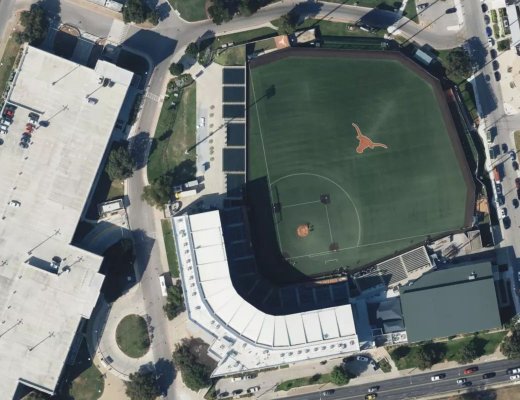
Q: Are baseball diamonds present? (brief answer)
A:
Yes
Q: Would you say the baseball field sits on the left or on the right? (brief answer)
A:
right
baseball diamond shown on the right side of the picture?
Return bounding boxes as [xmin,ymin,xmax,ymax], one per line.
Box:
[244,48,476,287]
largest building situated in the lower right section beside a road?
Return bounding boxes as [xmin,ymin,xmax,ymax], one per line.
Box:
[399,262,501,343]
